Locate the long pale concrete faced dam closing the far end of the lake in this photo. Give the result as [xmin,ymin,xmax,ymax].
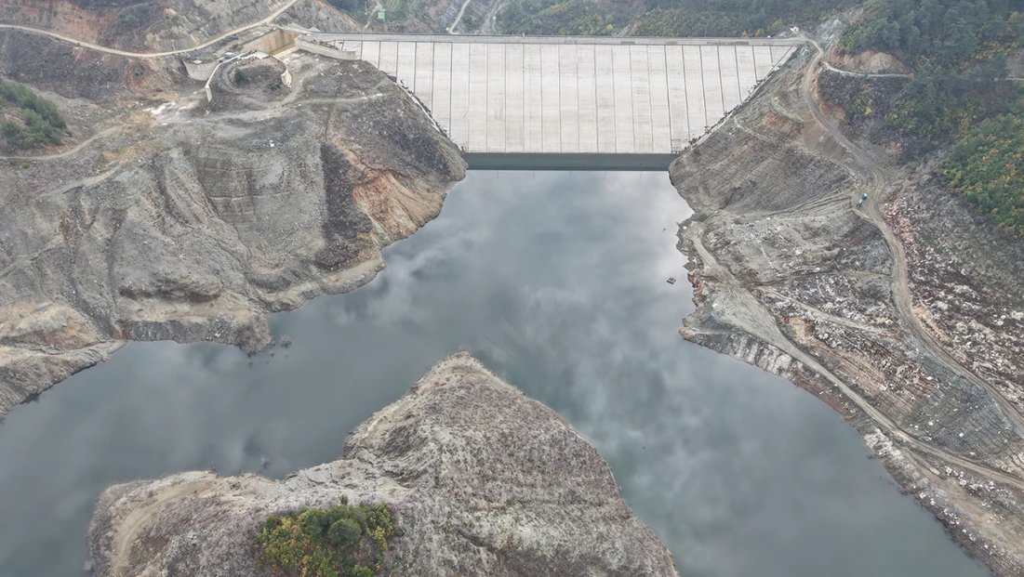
[295,31,799,154]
